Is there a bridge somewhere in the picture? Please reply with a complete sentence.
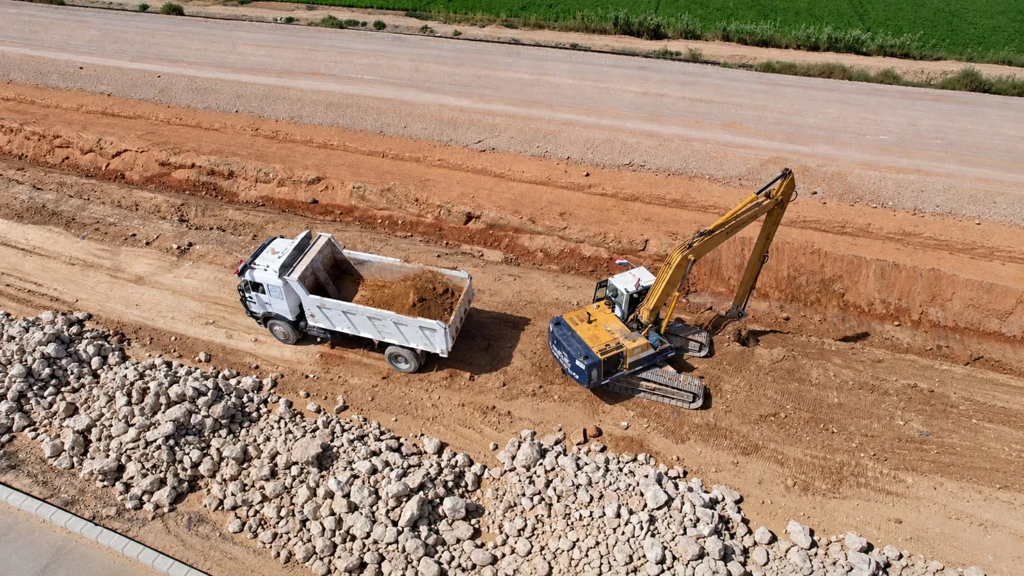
No, there's no bridge here.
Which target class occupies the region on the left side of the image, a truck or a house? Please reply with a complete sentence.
There is a truck on the left side of the image.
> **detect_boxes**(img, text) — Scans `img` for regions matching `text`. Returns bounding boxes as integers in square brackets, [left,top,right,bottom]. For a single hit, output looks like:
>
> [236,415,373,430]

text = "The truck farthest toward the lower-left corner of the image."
[229,230,476,371]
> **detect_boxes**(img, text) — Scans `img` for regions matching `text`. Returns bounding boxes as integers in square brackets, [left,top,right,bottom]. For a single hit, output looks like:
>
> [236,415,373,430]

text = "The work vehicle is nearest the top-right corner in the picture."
[550,167,797,406]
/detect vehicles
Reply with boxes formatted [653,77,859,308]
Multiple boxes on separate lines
[550,167,797,406]
[229,230,476,371]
